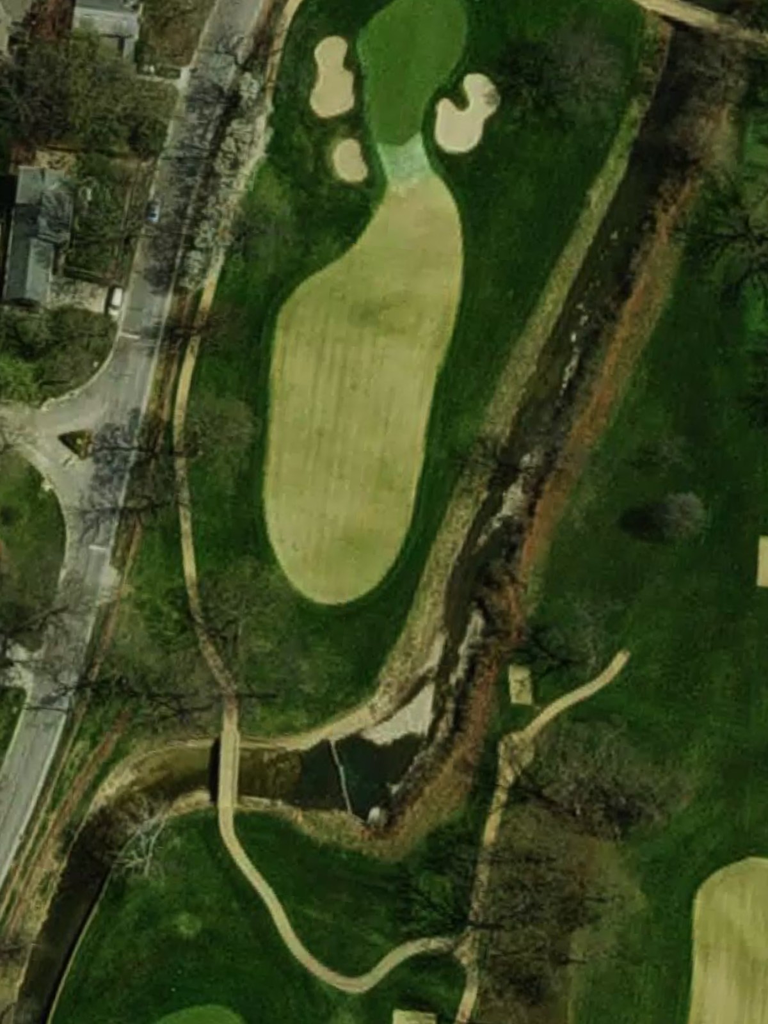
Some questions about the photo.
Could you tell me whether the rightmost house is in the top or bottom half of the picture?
top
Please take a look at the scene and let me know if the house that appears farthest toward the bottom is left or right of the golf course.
on the left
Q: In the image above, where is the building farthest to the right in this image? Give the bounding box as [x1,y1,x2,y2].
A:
[72,0,136,59]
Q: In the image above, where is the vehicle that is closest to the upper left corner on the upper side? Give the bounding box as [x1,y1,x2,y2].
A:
[147,199,161,223]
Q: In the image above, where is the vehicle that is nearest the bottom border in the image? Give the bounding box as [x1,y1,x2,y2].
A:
[108,286,121,313]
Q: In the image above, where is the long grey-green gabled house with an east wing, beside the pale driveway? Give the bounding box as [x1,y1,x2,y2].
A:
[5,165,77,304]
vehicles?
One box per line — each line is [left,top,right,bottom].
[147,199,161,223]
[108,286,121,313]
